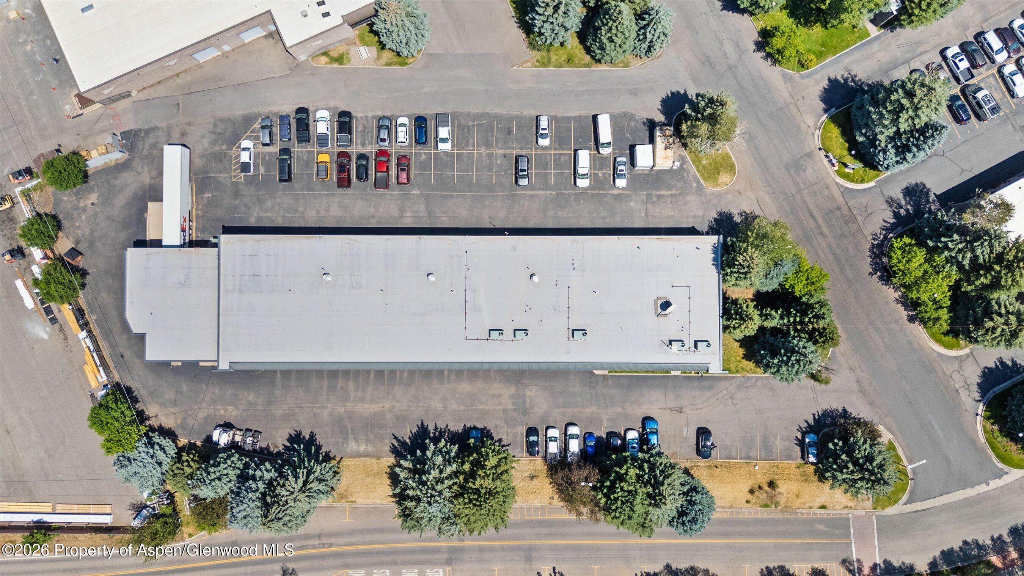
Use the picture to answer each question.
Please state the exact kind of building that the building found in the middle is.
warehouse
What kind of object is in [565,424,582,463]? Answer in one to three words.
vehicle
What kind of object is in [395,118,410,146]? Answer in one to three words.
car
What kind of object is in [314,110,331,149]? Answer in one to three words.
vehicle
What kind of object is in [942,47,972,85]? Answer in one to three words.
truck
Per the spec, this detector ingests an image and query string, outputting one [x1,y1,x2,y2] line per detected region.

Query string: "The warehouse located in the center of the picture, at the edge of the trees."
[124,234,727,374]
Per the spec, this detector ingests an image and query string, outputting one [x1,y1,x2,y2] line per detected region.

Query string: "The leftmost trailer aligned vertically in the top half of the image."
[163,145,192,248]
